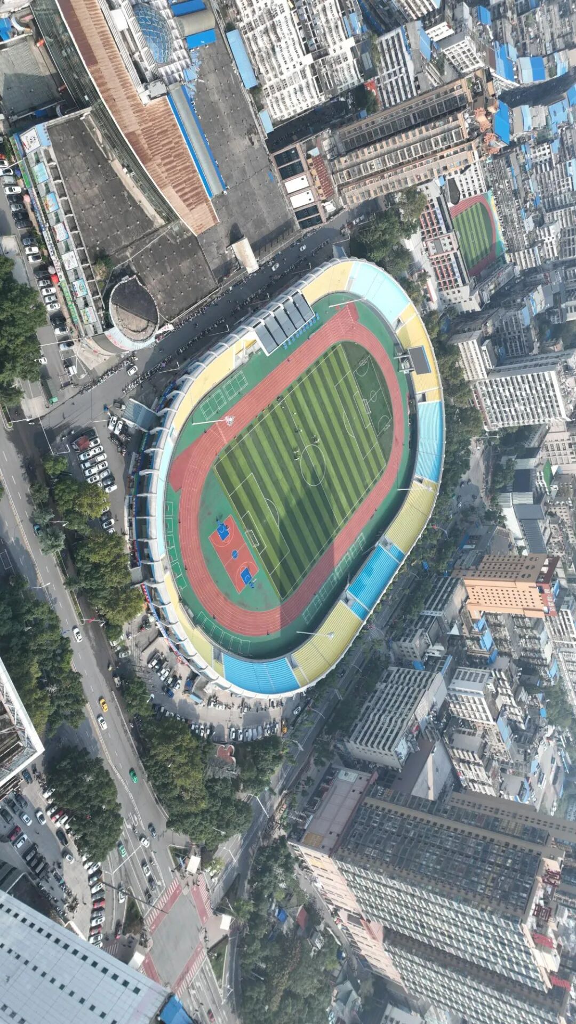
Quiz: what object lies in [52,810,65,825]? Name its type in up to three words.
vehicle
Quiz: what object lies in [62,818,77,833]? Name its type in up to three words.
car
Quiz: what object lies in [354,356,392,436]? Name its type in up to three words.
soccer field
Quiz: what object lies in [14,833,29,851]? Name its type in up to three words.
car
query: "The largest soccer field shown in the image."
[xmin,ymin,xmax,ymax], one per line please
[212,341,393,604]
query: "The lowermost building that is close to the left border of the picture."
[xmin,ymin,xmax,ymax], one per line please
[0,891,194,1024]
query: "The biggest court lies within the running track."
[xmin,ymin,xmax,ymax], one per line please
[209,515,259,594]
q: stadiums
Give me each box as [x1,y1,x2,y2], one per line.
[117,245,445,701]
